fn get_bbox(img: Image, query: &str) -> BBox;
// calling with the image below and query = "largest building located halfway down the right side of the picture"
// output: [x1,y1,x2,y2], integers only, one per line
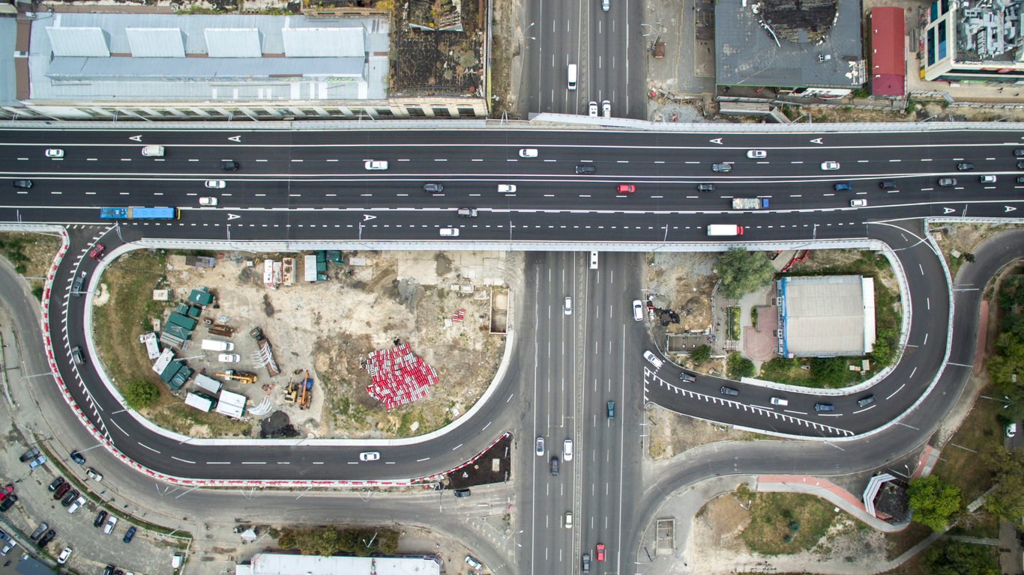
[770,276,863,358]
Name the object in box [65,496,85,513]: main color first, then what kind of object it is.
white car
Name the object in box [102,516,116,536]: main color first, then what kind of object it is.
white car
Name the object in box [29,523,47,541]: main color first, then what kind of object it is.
gray car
